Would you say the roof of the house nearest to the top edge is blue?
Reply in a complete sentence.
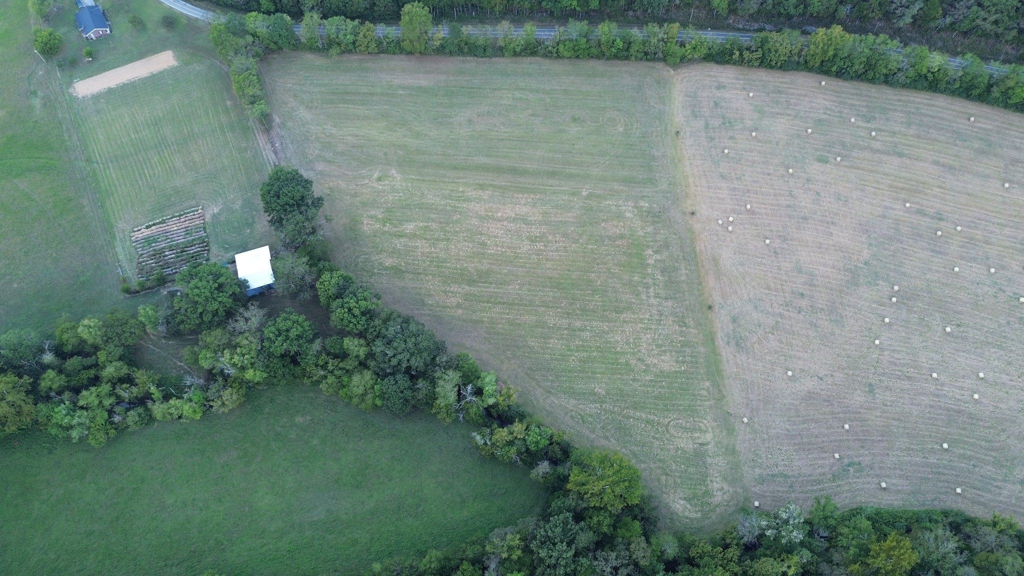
Yes, the roof of the house nearest to the top edge appears blue.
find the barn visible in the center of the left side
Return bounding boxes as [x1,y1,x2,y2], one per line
[235,245,277,297]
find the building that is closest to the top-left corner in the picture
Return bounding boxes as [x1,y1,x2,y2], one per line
[76,5,111,41]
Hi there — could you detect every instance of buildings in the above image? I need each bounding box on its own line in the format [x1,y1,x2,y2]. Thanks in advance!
[76,5,111,41]
[235,245,277,297]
